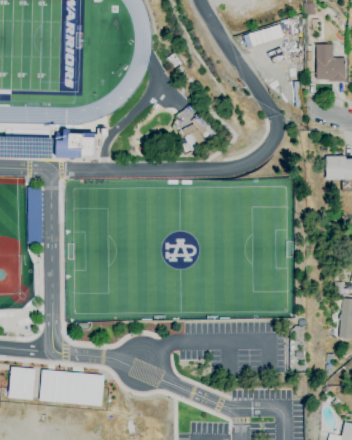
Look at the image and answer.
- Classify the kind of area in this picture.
sports ground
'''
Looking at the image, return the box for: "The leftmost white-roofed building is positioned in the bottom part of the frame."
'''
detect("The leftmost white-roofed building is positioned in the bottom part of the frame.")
[8,367,36,402]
